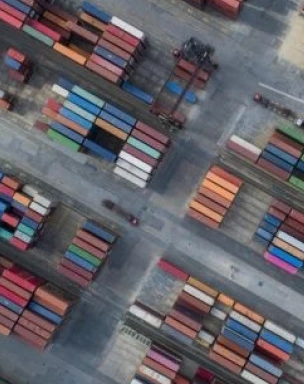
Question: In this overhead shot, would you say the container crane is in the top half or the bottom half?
top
